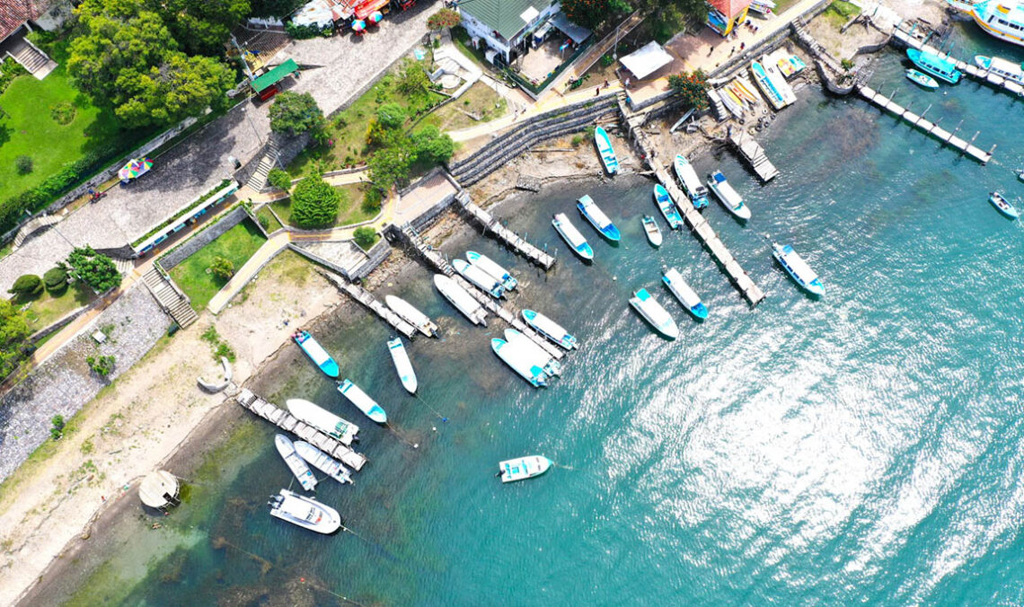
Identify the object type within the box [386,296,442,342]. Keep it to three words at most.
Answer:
boat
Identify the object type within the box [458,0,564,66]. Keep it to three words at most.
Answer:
house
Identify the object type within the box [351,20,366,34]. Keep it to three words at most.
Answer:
umbrella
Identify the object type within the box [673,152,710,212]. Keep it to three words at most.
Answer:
boat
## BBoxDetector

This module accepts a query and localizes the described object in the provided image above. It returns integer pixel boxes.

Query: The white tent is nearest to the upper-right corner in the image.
[617,40,674,90]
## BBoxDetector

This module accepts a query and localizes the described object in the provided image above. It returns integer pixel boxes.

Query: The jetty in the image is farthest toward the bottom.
[237,390,369,475]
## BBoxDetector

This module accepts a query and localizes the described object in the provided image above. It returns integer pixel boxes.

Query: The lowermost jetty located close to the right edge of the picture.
[855,81,1002,166]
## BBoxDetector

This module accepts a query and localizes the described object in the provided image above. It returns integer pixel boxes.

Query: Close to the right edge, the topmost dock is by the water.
[893,17,1024,100]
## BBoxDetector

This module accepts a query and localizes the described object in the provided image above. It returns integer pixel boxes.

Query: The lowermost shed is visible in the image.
[133,470,178,510]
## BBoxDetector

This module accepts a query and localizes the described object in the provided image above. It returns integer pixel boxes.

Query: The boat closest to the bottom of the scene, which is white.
[265,493,341,534]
